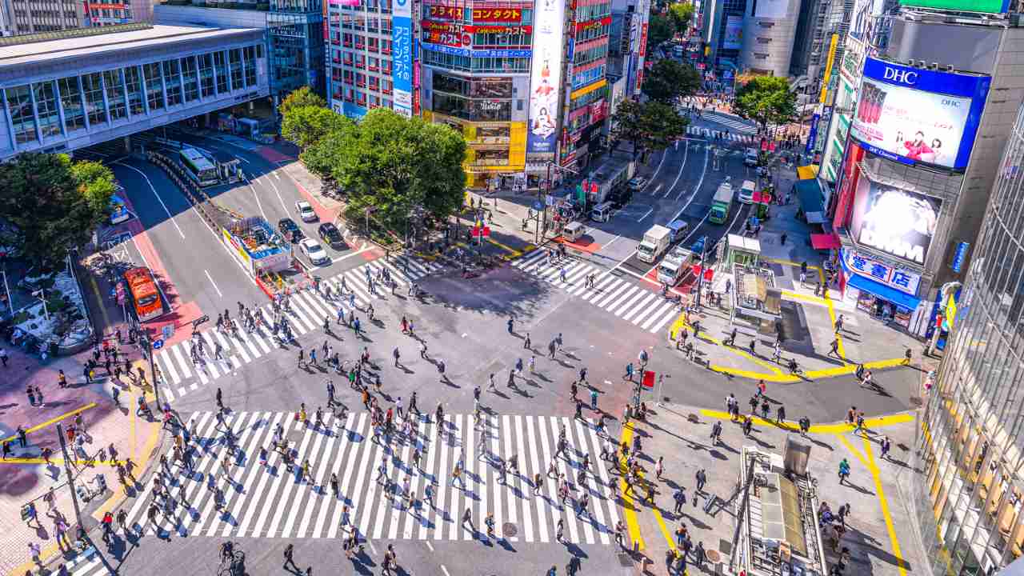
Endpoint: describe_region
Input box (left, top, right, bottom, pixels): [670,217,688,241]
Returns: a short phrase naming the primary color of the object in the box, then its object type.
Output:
blue vehicle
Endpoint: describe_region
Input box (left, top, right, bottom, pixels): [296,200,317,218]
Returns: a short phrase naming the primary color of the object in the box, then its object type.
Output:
white car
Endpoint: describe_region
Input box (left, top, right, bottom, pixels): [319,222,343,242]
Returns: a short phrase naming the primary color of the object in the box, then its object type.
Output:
black car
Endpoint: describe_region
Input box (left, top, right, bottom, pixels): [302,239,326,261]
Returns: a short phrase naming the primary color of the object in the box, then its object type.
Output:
white car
